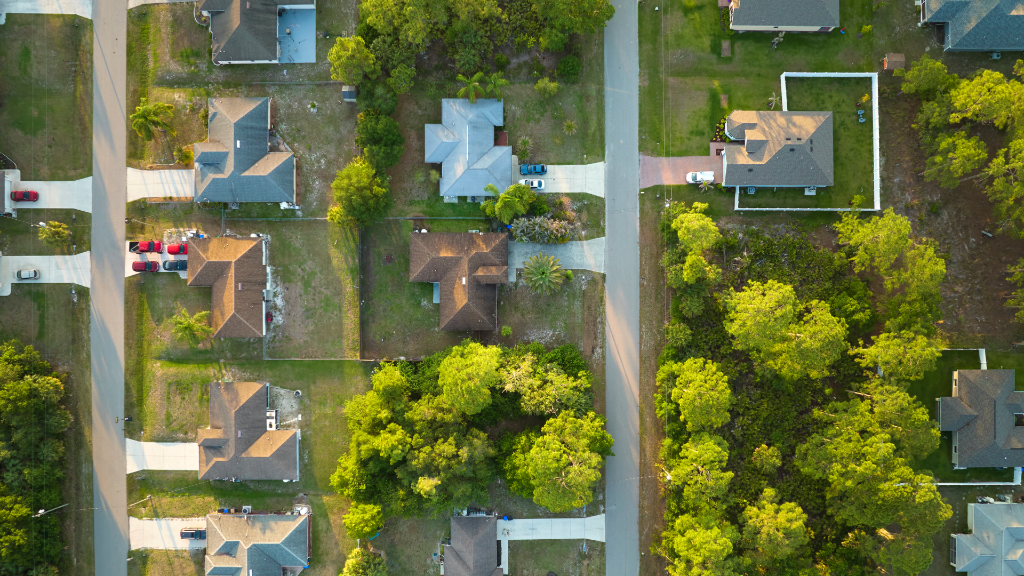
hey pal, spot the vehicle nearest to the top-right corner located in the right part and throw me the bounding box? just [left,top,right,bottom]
[685,171,715,184]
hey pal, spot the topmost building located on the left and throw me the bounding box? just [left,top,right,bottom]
[198,0,317,66]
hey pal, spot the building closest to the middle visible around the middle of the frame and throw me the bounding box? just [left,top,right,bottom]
[409,232,509,331]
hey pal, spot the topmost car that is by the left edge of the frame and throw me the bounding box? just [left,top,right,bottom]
[11,190,41,203]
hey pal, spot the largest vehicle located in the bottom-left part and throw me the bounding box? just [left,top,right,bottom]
[180,527,206,541]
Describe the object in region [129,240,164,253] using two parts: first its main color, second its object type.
red vehicle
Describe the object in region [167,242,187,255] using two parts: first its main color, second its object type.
red vehicle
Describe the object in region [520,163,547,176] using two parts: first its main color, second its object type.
blue vehicle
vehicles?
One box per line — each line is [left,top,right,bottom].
[11,190,41,203]
[520,178,545,191]
[167,242,187,255]
[15,268,41,281]
[164,259,187,271]
[180,527,206,541]
[685,171,715,184]
[129,240,164,253]
[520,163,547,176]
[132,259,160,272]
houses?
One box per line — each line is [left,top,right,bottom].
[919,0,1024,53]
[721,111,833,187]
[197,381,302,480]
[948,503,1024,576]
[933,369,1024,468]
[187,237,268,338]
[409,232,509,331]
[192,97,297,203]
[198,0,317,66]
[718,0,840,31]
[205,513,311,576]
[424,98,512,197]
[443,515,503,576]
[0,170,14,215]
